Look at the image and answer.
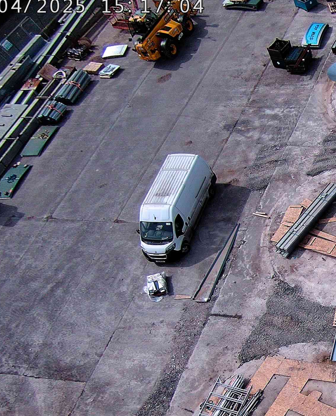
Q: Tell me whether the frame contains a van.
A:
Yes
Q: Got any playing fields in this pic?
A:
No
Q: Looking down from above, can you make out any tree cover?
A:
No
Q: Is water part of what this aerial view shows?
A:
No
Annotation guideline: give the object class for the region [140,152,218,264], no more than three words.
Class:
van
